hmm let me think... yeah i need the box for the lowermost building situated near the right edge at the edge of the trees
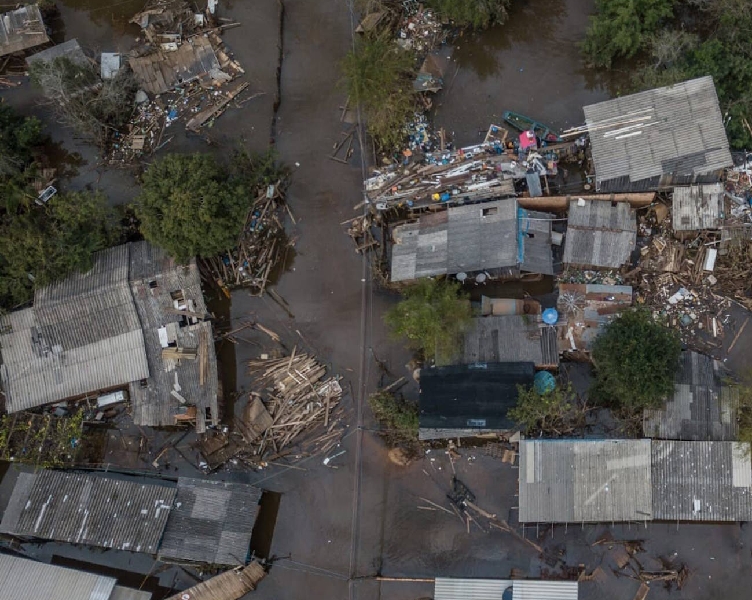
[511,437,752,538]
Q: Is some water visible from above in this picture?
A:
Yes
